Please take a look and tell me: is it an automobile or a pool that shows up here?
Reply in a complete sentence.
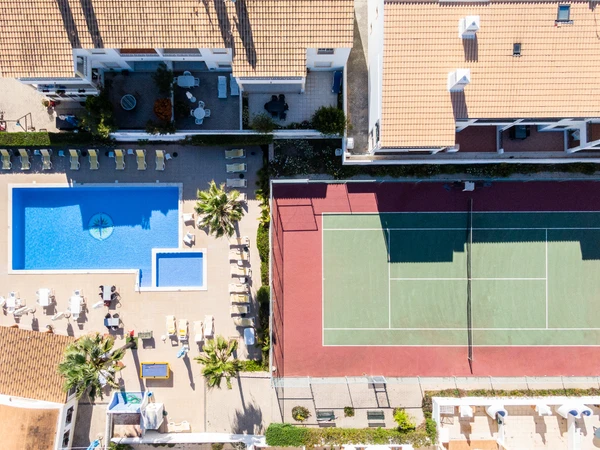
Looking from above, you can make out a pool.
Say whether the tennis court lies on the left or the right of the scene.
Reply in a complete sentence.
It is on the right.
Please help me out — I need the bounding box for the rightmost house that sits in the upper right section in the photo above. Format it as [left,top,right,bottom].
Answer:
[368,0,600,156]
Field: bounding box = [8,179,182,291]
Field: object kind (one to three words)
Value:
swimming pool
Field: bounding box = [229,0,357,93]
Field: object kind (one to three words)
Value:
house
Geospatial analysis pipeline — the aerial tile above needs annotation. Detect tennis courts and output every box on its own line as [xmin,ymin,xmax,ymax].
[274,183,600,377]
